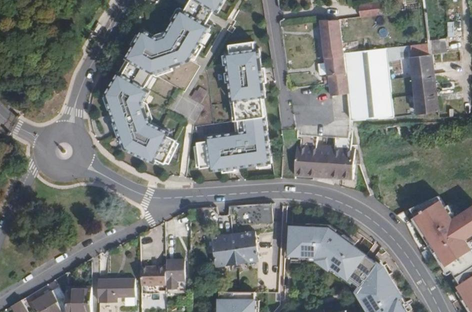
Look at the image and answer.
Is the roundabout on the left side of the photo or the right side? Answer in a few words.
left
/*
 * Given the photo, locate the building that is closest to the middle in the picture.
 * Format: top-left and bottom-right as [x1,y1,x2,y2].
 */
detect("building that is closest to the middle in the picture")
[196,118,274,174]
